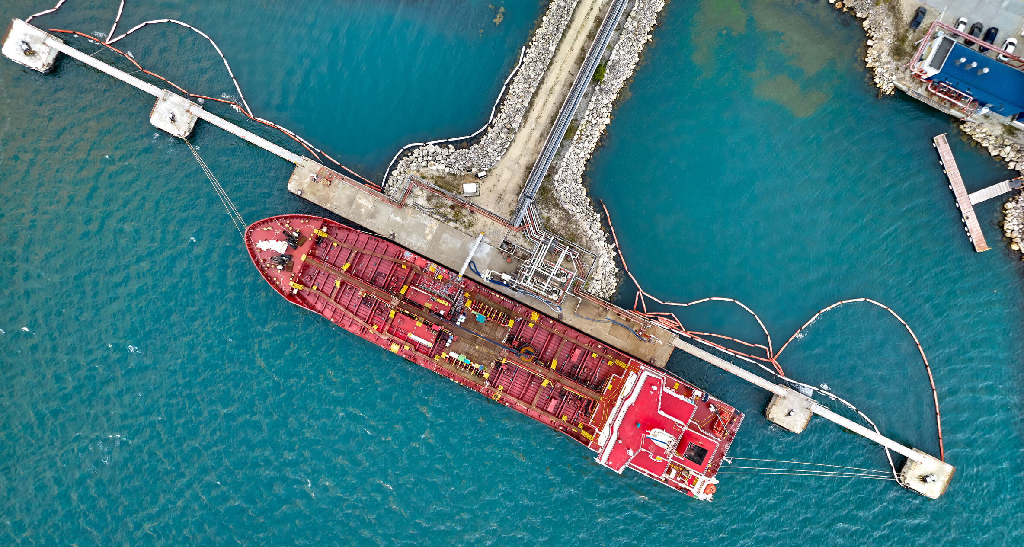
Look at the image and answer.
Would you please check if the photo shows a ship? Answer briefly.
Yes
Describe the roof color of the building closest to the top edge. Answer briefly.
blue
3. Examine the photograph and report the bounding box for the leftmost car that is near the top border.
[911,5,929,29]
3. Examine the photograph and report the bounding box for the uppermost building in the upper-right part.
[916,35,1024,116]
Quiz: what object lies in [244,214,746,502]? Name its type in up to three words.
ship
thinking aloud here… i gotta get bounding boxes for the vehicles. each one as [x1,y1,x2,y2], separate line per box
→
[911,5,929,29]
[998,35,1020,61]
[966,20,986,45]
[981,25,1000,51]
[952,15,970,37]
